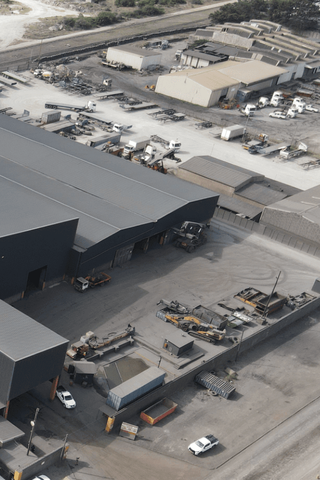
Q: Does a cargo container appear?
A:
Yes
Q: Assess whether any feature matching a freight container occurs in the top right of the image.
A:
No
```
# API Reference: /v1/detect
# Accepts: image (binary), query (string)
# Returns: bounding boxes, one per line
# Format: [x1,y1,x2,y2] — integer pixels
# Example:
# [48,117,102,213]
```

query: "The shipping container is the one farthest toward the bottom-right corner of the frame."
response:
[194,368,239,402]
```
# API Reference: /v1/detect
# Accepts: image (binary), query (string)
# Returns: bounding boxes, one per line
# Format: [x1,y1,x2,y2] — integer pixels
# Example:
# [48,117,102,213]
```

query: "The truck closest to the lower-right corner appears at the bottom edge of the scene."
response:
[188,432,218,458]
